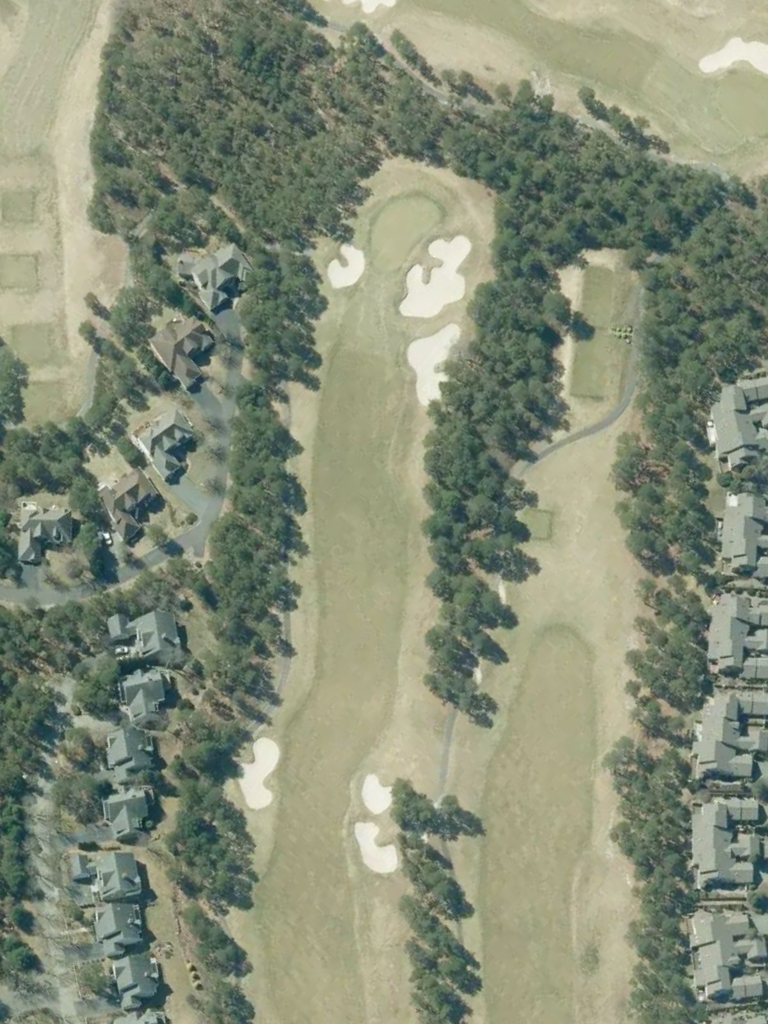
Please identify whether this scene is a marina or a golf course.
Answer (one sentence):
What you see here is a golf course.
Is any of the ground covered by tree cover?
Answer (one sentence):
Yes, there's tree cover in this view.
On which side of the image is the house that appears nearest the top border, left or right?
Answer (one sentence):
It is on the left.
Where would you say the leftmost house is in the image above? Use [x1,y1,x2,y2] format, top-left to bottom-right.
[18,501,72,563]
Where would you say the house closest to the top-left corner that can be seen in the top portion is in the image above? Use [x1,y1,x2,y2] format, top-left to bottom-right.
[178,243,249,312]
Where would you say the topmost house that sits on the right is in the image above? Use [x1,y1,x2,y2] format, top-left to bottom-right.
[707,377,768,466]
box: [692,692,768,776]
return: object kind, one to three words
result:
house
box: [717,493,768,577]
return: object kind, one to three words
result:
house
